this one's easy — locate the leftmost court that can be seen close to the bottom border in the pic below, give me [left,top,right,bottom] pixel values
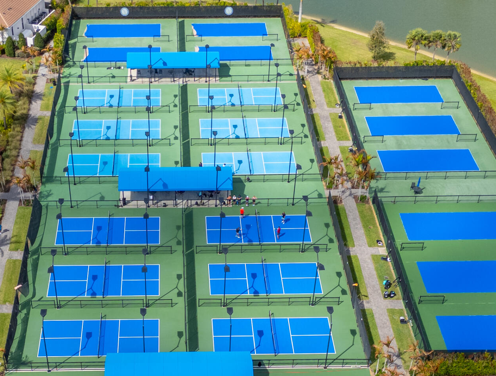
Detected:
[36,315,160,359]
